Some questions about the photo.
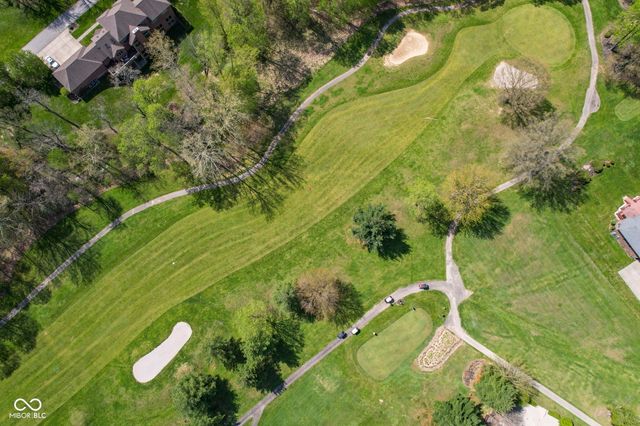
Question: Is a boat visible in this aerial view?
No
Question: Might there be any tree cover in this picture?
Yes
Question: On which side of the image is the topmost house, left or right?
left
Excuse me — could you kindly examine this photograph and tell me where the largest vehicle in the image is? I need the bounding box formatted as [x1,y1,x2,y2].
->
[42,54,59,69]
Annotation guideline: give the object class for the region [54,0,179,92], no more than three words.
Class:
house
